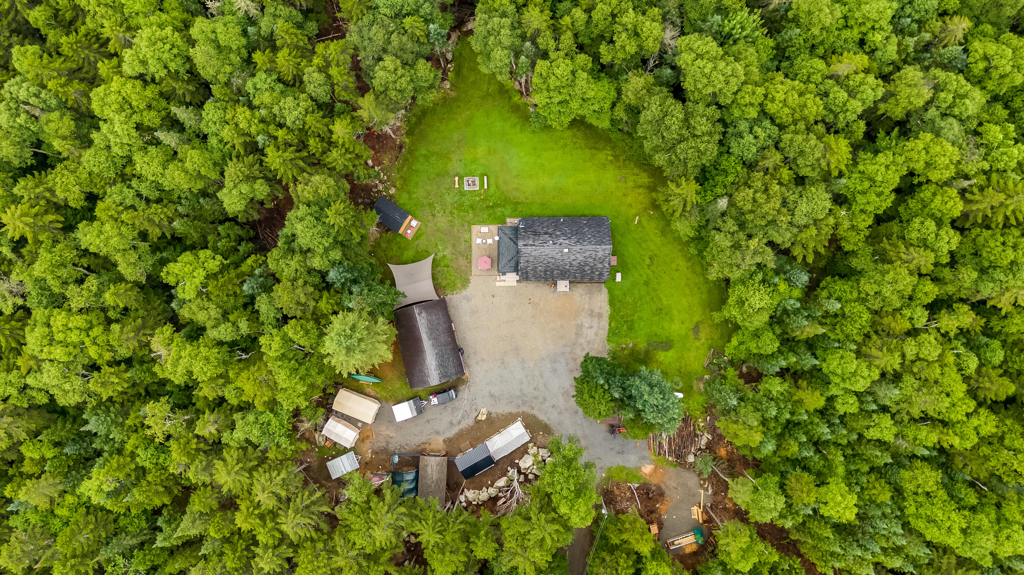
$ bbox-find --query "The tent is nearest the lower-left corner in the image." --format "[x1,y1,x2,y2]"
[322,417,360,449]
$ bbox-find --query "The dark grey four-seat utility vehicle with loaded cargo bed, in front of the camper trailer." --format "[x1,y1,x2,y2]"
[428,388,457,406]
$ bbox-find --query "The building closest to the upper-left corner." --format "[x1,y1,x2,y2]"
[373,196,422,240]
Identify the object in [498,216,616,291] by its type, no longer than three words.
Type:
house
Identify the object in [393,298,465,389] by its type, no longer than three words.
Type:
building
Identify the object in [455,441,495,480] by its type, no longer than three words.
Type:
shed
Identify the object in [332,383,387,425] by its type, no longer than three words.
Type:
tent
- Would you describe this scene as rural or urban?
rural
